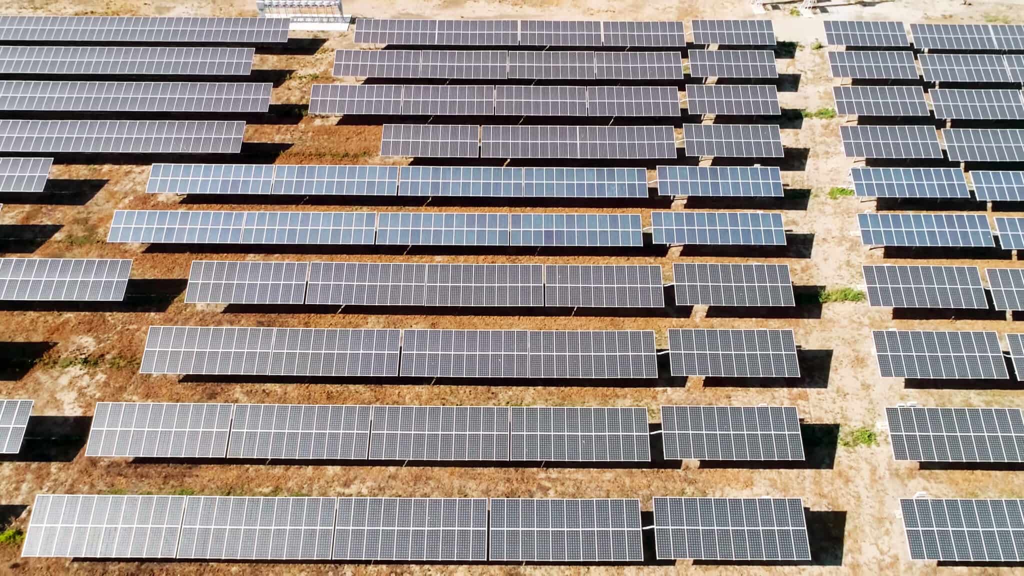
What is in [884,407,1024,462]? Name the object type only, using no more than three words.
solar array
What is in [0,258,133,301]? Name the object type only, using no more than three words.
solar array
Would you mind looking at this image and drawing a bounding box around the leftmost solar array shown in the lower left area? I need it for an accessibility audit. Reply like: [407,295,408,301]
[0,400,34,454]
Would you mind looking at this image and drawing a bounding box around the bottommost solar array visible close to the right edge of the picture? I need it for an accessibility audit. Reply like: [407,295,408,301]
[899,498,1024,562]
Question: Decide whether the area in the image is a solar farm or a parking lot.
solar farm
